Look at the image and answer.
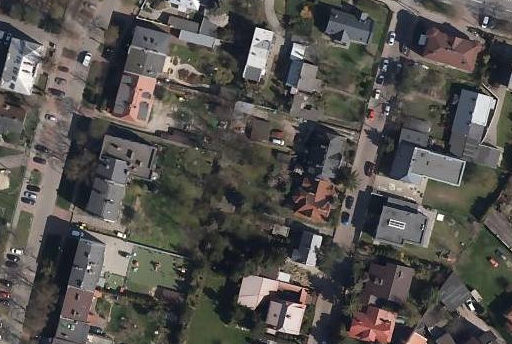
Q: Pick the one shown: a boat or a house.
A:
house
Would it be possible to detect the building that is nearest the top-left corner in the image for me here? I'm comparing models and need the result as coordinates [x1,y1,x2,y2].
[1,37,44,96]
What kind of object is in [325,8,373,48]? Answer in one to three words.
house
